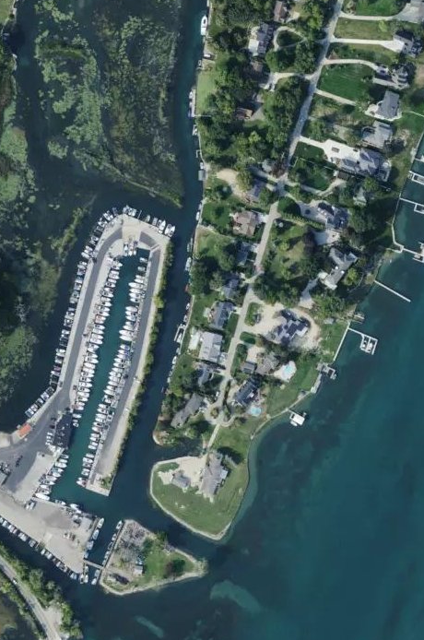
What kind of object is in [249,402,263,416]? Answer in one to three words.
swimming pool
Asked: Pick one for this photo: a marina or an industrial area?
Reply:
marina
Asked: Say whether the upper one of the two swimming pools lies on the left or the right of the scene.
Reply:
right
